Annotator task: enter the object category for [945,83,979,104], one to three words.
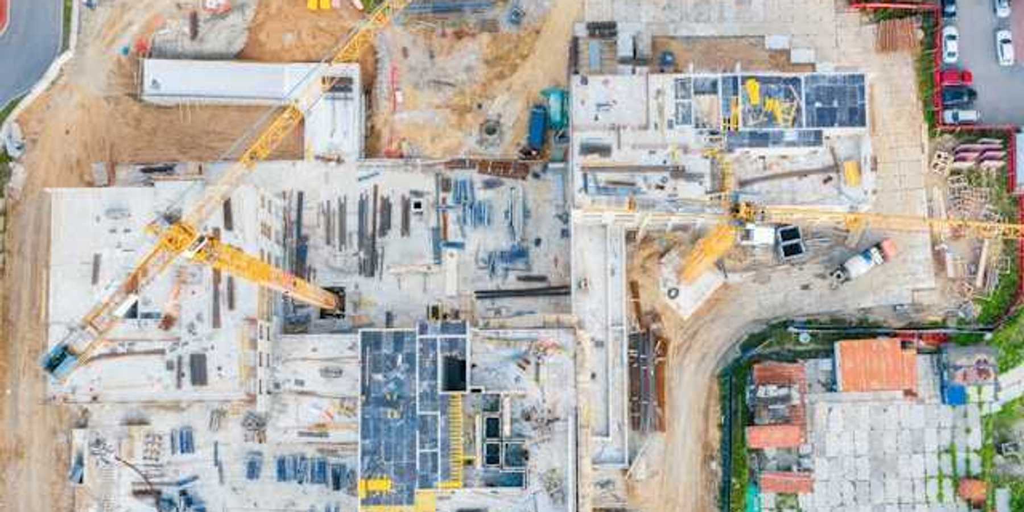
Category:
car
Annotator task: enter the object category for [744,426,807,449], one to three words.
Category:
house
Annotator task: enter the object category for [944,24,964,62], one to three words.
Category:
car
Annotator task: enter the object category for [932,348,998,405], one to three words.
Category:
shed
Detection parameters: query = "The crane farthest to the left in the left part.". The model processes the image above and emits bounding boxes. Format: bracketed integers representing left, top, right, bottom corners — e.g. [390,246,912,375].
[41,0,423,391]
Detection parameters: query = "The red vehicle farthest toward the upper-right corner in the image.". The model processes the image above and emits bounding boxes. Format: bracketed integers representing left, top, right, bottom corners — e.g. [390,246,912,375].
[945,65,975,85]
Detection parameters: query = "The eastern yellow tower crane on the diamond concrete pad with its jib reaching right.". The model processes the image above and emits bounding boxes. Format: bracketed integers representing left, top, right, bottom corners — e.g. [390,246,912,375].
[584,184,1024,295]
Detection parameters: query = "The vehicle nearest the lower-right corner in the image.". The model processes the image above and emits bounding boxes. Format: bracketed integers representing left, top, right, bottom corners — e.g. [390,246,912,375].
[833,231,907,287]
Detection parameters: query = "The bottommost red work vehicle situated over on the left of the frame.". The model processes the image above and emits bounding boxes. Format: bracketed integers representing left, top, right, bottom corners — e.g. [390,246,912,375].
[382,140,414,159]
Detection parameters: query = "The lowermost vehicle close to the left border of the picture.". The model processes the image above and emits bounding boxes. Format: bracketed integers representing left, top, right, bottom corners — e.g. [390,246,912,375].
[0,117,26,157]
